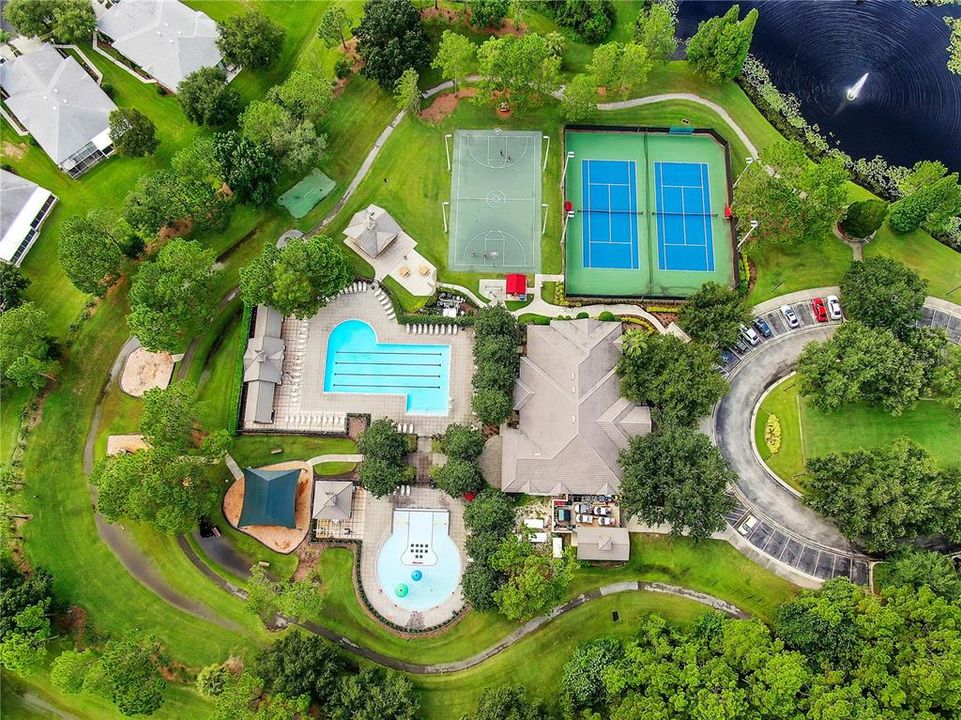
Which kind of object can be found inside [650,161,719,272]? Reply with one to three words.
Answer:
tennis court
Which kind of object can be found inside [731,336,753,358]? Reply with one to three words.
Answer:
car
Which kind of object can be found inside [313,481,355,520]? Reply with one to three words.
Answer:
building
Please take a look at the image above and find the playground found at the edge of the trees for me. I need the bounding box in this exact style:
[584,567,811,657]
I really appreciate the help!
[222,459,313,555]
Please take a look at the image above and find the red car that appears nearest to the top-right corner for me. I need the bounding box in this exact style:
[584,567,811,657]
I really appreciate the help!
[810,298,830,322]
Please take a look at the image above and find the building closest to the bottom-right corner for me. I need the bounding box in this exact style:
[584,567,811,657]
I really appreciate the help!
[571,528,630,560]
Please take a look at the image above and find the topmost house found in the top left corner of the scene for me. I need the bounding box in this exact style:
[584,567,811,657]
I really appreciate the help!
[98,0,221,97]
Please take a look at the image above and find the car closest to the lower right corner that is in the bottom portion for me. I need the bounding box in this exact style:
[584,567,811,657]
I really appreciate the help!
[737,512,760,536]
